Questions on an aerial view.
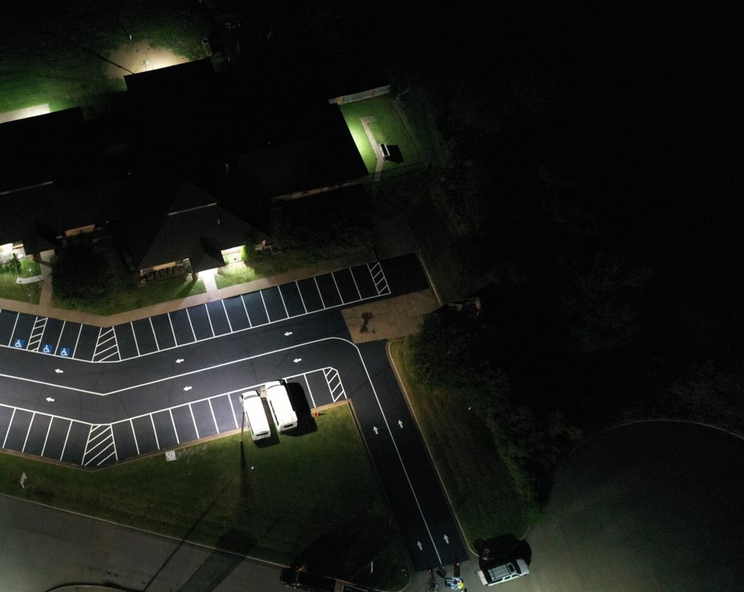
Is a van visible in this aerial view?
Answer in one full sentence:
Yes, there's a van down there.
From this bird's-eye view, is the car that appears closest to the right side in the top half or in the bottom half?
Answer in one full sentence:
You can find the car that appears closest to the right side in the bottom half.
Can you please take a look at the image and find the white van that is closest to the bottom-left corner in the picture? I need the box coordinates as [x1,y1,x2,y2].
[244,394,273,440]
